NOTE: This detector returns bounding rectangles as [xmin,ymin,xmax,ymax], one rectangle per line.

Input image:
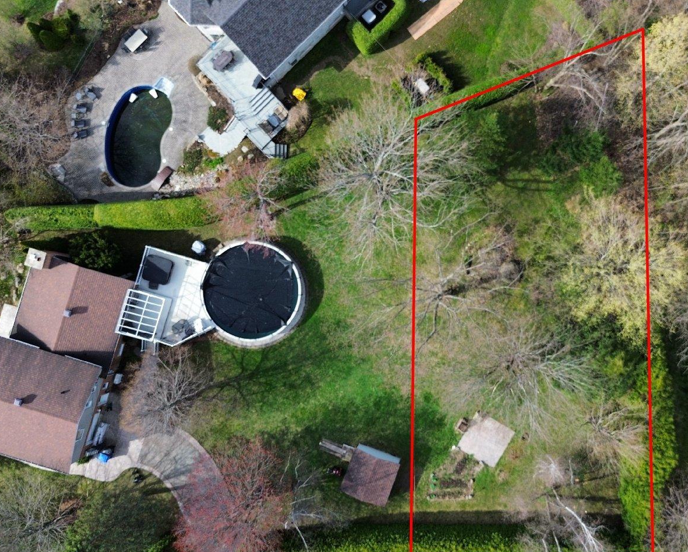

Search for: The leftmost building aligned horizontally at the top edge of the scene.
[165,0,362,87]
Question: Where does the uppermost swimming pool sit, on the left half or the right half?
left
